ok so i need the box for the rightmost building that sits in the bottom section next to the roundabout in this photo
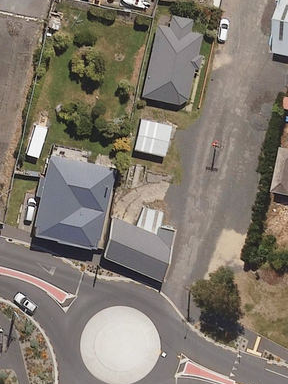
[104,218,177,284]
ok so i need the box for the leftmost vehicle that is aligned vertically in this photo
[24,198,36,225]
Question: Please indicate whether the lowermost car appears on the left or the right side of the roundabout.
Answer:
to the left of it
